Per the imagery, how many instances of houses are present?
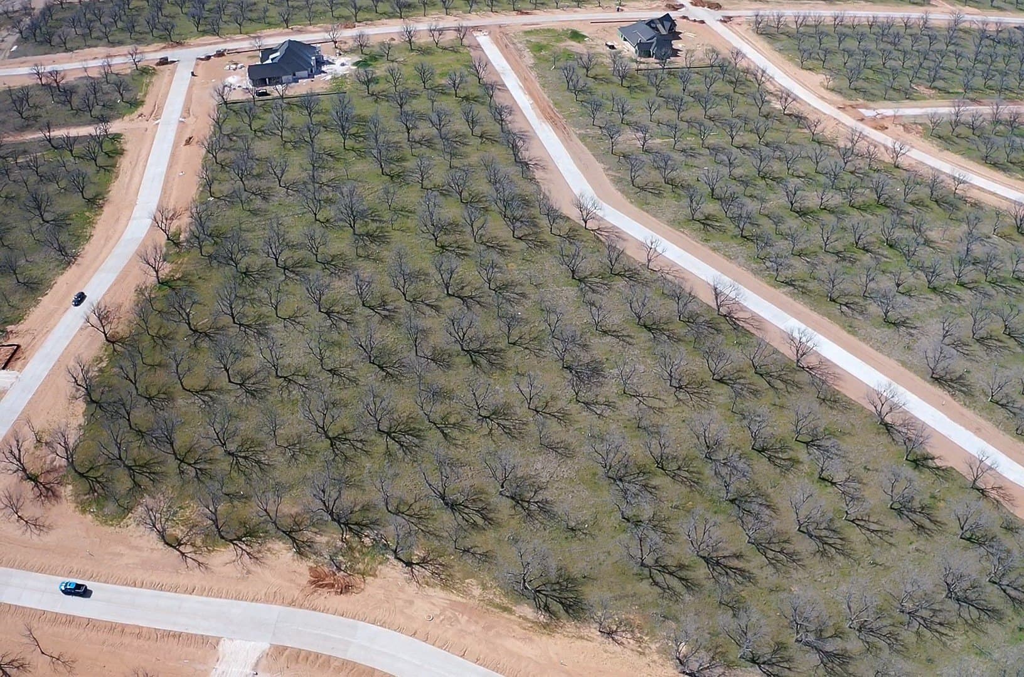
2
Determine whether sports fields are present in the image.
No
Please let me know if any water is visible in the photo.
No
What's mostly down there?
grass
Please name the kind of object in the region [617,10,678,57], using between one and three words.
house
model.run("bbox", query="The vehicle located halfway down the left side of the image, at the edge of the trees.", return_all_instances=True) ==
[70,292,86,304]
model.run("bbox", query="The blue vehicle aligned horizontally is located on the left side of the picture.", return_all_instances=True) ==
[56,581,88,596]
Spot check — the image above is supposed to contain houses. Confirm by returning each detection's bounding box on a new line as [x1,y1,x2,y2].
[617,10,678,57]
[251,37,326,86]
